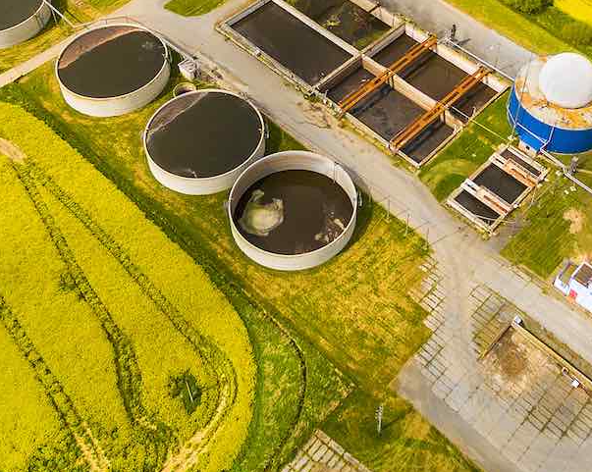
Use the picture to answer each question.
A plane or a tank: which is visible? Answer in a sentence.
The one in the frame is a tank.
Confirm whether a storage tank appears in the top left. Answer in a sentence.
Yes, the scene does show a storage tank in the top left.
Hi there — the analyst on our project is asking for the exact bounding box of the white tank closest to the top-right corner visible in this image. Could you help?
[509,54,592,157]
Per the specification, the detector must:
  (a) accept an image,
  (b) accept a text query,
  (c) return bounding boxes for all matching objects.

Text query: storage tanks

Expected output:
[228,151,362,274]
[0,0,52,51]
[55,23,172,116]
[144,89,270,197]
[509,54,592,157]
